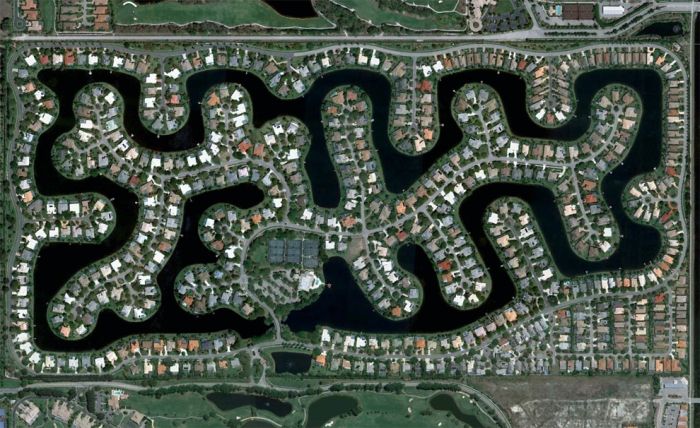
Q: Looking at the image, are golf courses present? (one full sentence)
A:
Yes, a golf course is visible in the scene.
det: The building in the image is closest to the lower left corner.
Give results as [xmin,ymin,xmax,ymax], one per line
[15,399,40,425]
